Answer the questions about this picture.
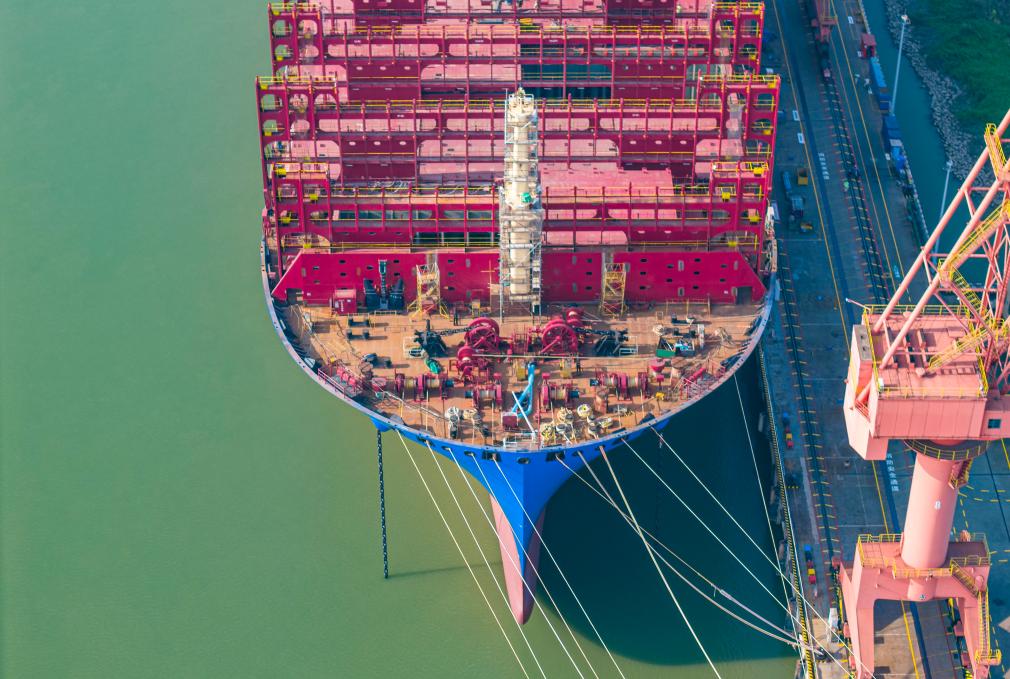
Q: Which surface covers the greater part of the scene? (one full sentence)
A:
What you mostly see from above here is water.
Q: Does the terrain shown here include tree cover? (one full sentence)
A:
No, the scene doesn't show any tree cover.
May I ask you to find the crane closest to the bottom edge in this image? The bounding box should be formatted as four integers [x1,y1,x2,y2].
[829,104,1010,679]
